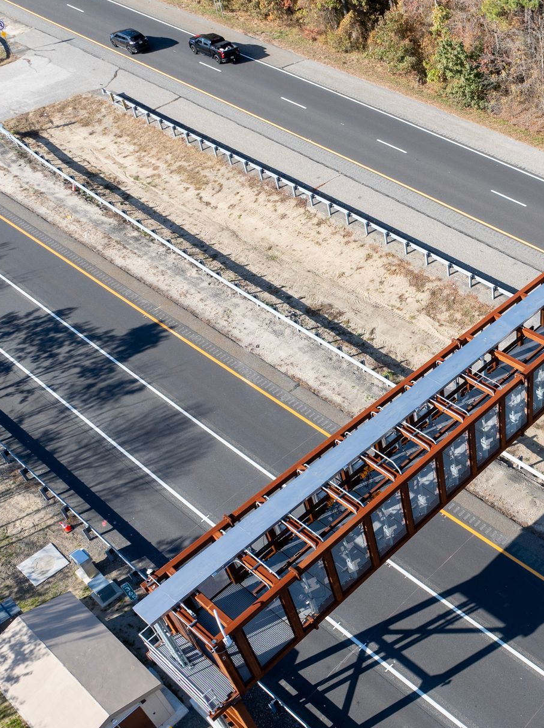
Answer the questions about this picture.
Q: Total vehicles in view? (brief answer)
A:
2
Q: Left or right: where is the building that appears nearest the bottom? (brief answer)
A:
left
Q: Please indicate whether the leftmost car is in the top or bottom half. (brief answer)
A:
top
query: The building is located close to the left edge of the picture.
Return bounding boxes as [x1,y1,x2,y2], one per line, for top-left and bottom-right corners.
[0,597,168,728]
